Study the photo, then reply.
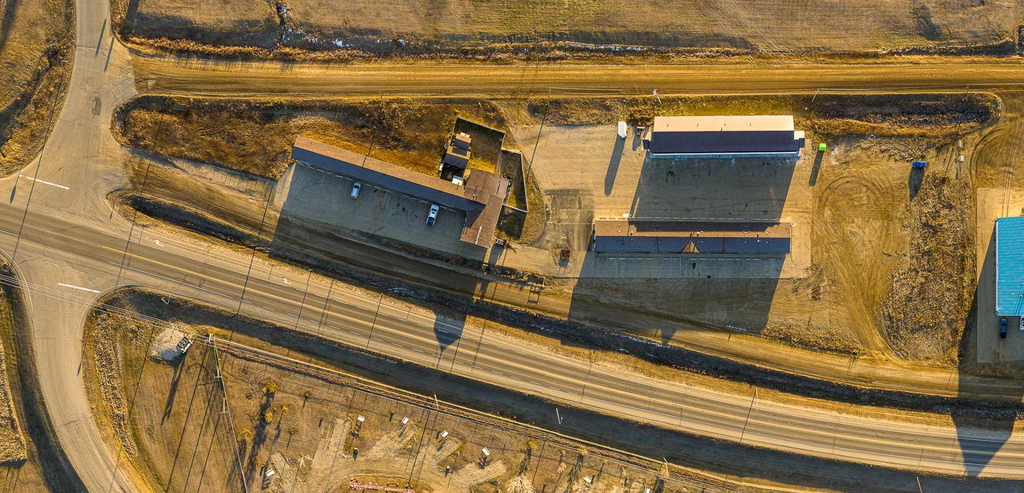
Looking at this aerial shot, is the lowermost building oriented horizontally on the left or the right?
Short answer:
right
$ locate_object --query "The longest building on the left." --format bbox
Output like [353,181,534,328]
[292,136,509,249]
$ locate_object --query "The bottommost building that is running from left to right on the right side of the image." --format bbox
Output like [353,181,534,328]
[595,221,791,253]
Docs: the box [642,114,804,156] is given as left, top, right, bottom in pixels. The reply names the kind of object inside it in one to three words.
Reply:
building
